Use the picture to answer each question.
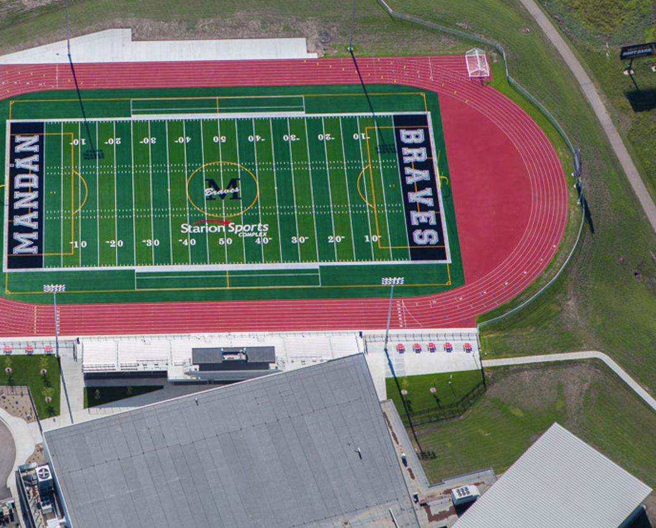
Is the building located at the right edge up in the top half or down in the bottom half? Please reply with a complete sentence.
The bottom half of the photo is where the building located at the right edge is.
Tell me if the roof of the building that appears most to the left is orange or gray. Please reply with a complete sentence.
In this view, the roof of the building that appears most to the left is gray.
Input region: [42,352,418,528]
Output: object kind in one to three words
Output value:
building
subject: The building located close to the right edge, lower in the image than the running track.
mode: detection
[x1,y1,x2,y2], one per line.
[449,424,653,528]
